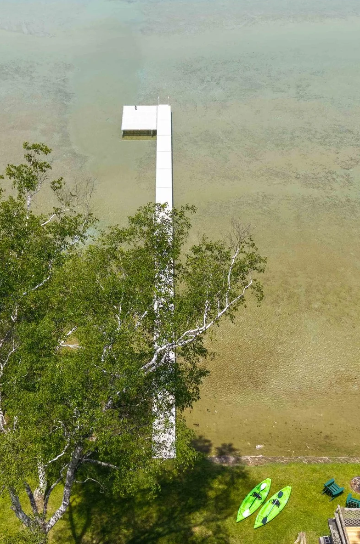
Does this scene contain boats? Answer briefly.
Yes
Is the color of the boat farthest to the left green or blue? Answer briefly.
green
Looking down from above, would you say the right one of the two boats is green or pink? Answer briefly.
green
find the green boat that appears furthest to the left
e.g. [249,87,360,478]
[237,478,270,523]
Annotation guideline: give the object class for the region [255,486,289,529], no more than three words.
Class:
boat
